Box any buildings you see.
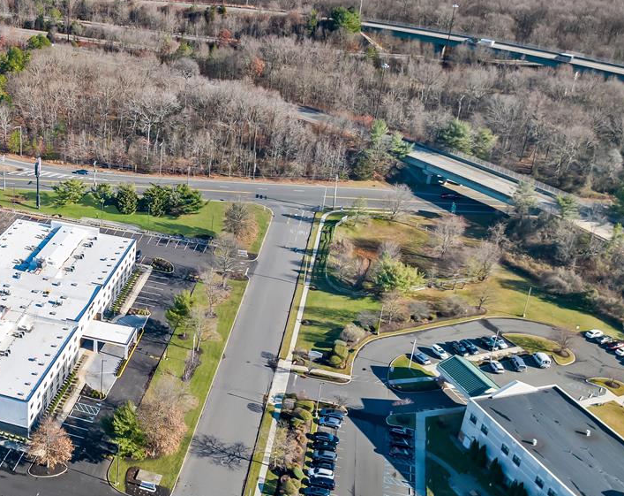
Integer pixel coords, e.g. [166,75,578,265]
[460,371,624,496]
[0,218,137,436]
